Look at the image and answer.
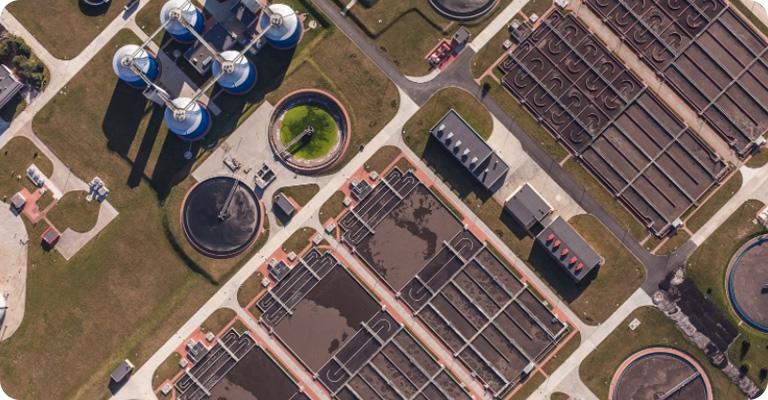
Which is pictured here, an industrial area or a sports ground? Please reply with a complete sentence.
It's an industrial area.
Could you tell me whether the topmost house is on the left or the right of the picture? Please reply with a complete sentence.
You can find the topmost house on the left side of the picture.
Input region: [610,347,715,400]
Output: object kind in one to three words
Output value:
storage tank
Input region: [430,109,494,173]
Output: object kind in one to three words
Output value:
building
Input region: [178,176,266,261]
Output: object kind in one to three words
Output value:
storage tank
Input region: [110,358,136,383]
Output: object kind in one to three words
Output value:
shed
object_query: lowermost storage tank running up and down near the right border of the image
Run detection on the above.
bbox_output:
[725,233,768,334]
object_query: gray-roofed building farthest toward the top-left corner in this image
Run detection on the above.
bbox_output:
[0,62,31,118]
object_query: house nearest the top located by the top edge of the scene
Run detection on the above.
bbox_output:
[225,0,260,29]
